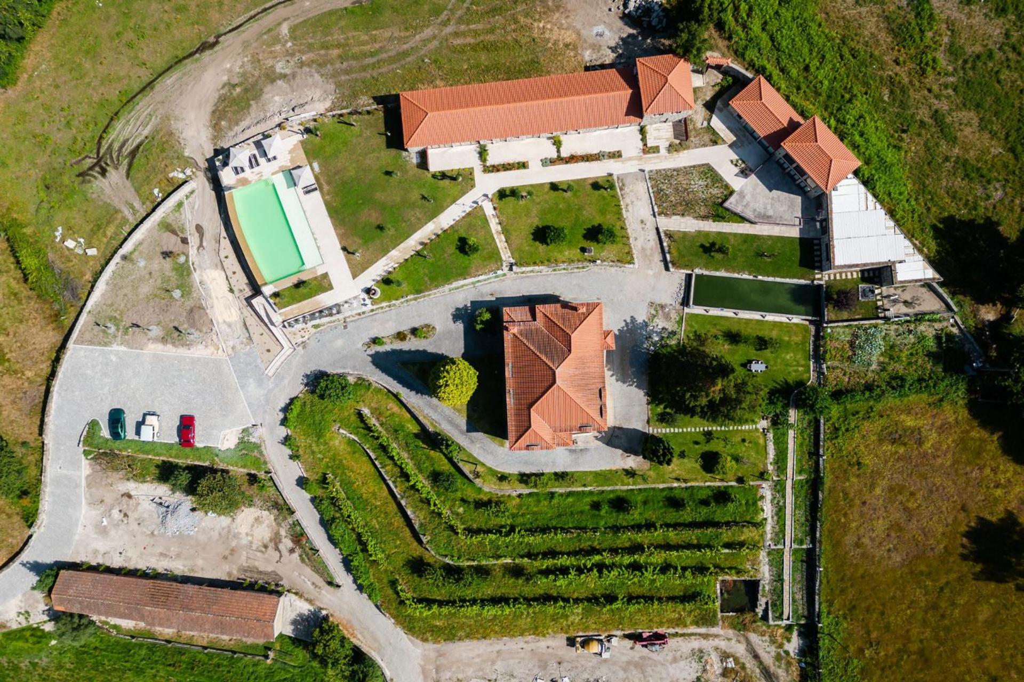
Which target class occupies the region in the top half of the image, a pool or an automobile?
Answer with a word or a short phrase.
pool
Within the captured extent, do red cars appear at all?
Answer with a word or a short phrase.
Yes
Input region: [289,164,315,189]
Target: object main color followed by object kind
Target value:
white umbrella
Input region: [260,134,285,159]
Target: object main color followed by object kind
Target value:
white umbrella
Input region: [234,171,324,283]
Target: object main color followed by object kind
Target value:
green swimming pool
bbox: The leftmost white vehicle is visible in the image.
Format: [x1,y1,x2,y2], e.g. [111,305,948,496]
[137,412,158,443]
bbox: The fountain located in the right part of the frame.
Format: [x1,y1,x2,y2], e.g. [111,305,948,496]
[859,284,877,300]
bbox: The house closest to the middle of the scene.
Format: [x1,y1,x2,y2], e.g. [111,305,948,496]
[503,302,616,451]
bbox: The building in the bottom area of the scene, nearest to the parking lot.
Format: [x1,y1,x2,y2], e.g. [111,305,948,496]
[51,567,286,641]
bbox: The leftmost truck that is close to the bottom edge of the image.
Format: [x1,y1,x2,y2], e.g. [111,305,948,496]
[577,639,617,665]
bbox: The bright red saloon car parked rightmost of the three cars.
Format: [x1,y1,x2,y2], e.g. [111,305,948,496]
[175,415,194,449]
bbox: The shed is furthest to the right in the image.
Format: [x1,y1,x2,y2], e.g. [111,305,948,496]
[819,175,943,286]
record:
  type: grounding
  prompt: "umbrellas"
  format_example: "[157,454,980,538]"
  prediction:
[229,146,251,168]
[260,134,285,159]
[289,164,315,189]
